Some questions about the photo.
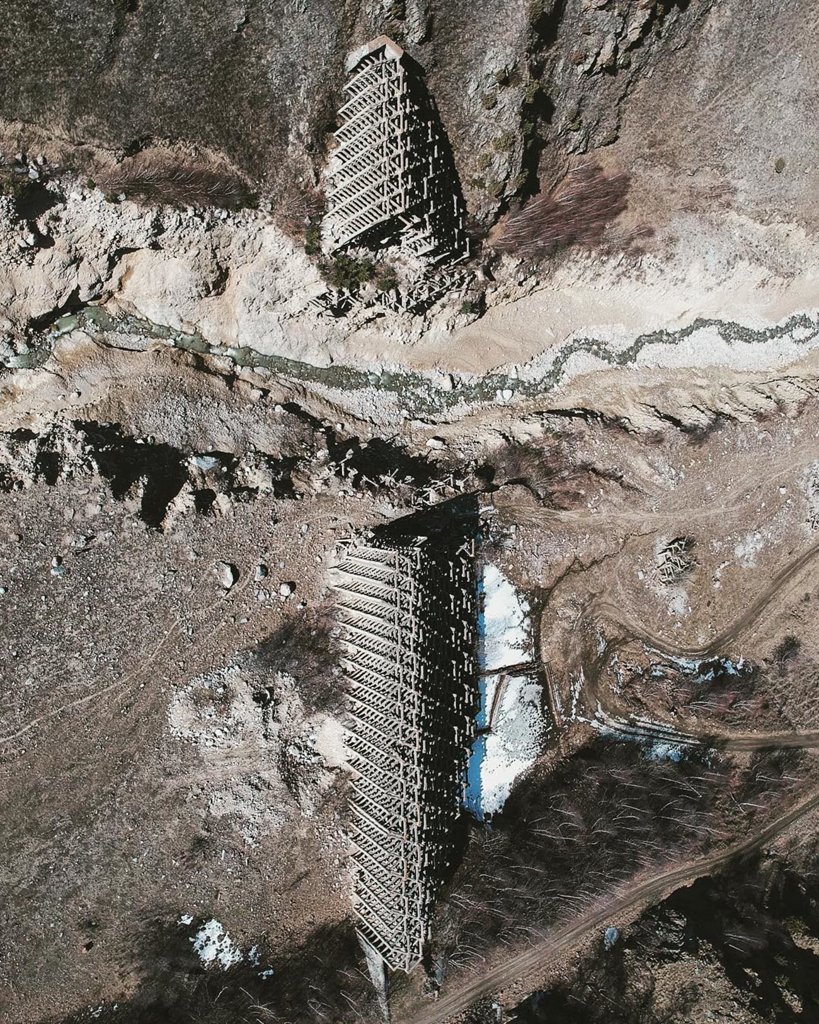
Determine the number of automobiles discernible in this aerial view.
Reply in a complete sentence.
The picture shows no automobiles.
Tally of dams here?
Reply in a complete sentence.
I count 2 dams.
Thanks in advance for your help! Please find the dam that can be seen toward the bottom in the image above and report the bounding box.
[331,540,479,975]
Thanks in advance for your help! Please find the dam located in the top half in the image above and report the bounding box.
[321,58,463,253]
